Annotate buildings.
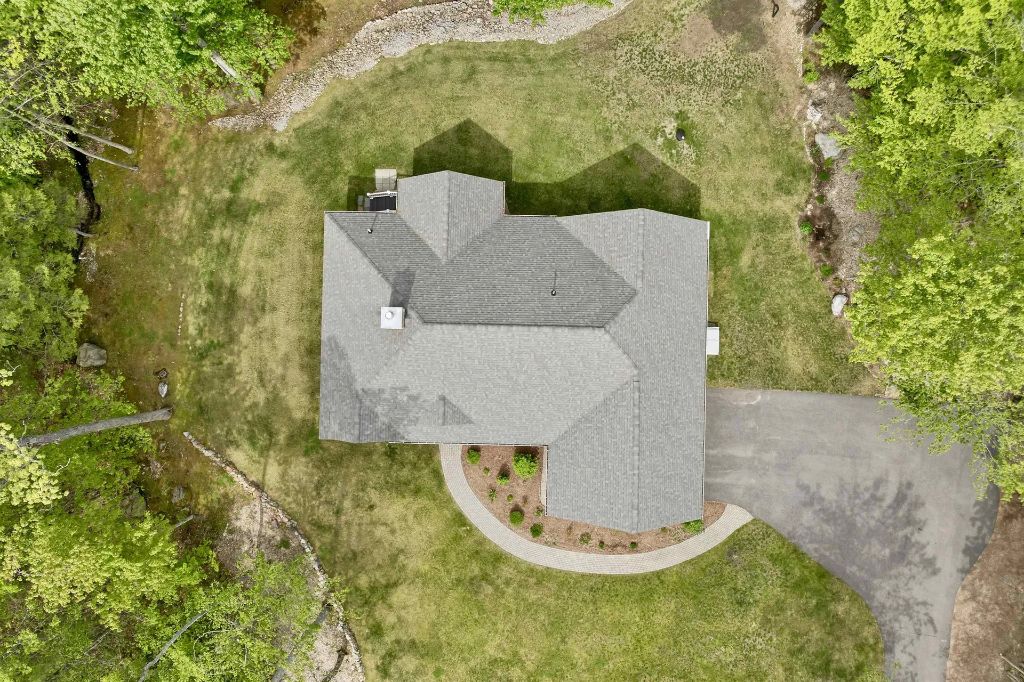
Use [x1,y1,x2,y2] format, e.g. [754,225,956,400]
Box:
[319,171,719,533]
